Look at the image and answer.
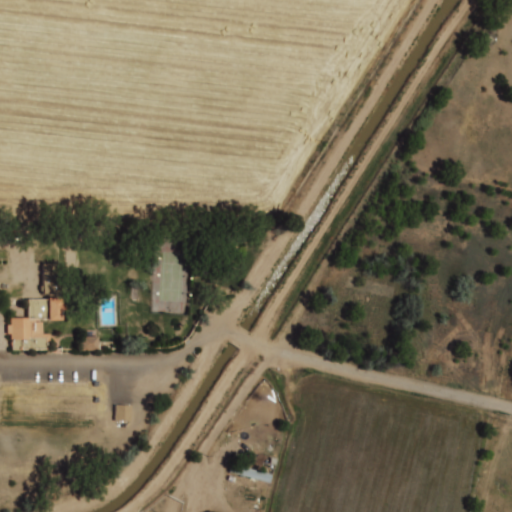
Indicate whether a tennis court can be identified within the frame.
Yes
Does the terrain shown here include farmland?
Yes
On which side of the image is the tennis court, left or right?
left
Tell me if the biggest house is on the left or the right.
left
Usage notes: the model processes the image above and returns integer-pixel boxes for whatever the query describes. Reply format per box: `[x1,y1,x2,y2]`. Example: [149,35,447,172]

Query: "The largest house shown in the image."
[6,299,64,350]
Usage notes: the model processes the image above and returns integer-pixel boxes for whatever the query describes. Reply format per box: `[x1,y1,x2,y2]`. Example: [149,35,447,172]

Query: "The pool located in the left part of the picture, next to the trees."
[101,298,116,326]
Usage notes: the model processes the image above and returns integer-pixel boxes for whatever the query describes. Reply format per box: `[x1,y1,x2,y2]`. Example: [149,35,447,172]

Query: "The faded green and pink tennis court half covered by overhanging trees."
[152,240,188,313]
